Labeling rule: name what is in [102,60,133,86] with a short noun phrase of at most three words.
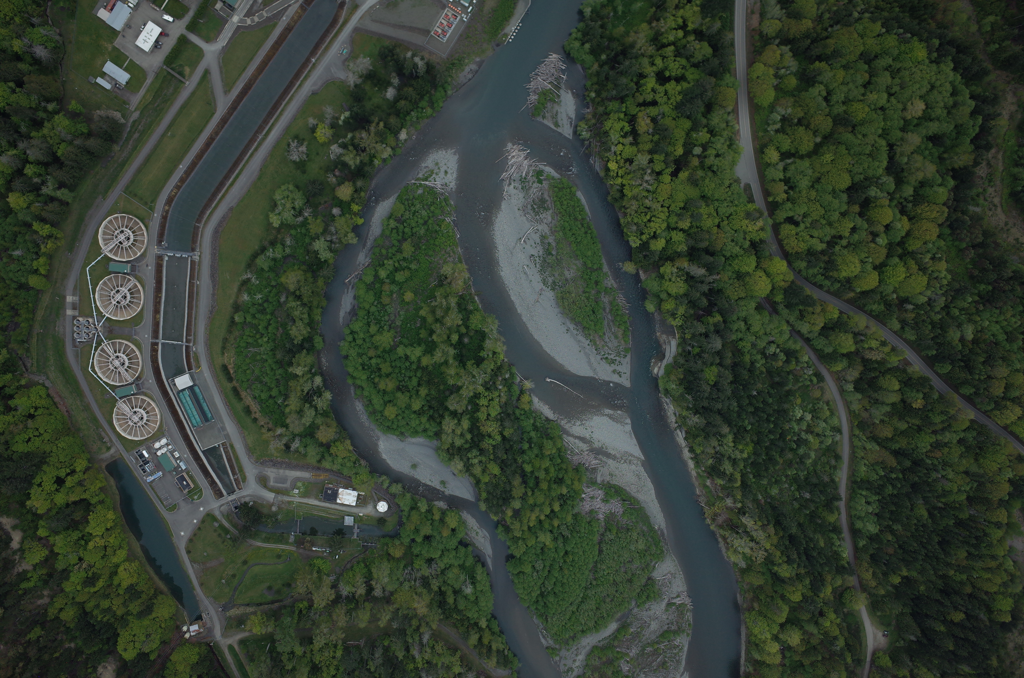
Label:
house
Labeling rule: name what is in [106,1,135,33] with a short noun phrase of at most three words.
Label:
building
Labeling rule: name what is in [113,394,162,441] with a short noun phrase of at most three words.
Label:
storage tank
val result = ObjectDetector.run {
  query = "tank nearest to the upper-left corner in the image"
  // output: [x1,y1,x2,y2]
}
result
[99,214,149,261]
